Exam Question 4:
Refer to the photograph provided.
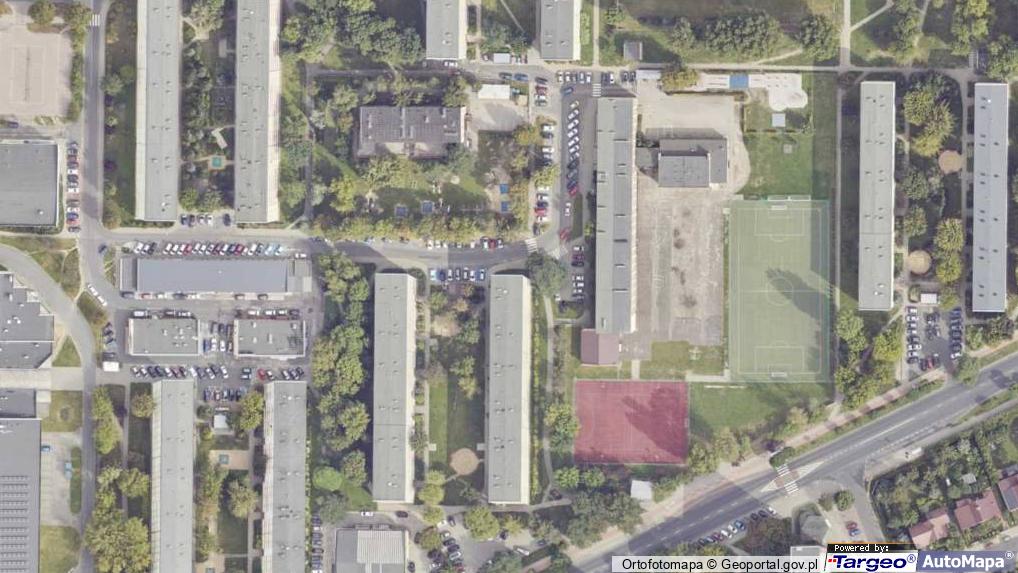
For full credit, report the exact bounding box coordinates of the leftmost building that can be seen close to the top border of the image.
[137,0,179,224]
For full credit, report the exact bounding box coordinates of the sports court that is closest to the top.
[0,25,72,121]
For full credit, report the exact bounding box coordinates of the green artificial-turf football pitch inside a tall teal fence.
[729,200,828,382]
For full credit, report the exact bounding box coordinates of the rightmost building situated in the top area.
[972,84,1007,312]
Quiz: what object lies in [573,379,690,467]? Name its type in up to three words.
sports court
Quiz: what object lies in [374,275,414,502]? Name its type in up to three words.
building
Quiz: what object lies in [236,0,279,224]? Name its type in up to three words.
building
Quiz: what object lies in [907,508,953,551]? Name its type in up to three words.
house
